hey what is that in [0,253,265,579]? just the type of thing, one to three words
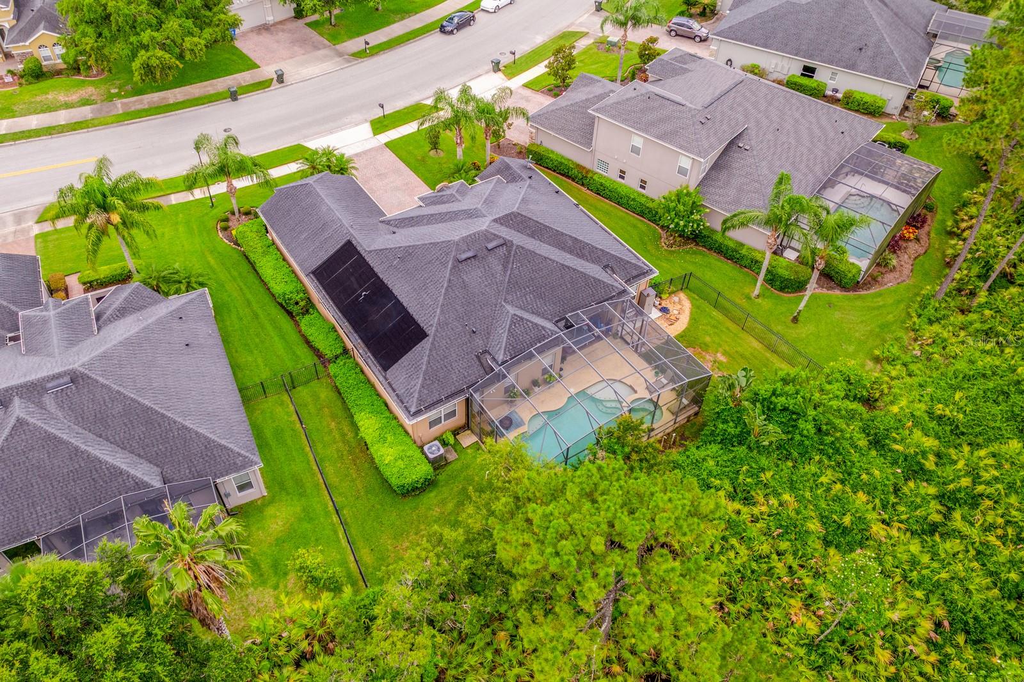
house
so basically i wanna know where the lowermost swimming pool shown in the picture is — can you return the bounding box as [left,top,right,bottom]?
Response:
[517,370,671,485]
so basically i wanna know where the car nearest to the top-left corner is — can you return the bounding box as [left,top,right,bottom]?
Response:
[436,9,479,36]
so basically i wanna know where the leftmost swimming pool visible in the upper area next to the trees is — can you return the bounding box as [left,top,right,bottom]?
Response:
[830,188,905,253]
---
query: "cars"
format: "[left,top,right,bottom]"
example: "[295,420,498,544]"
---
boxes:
[665,12,713,41]
[436,9,479,36]
[479,0,519,13]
